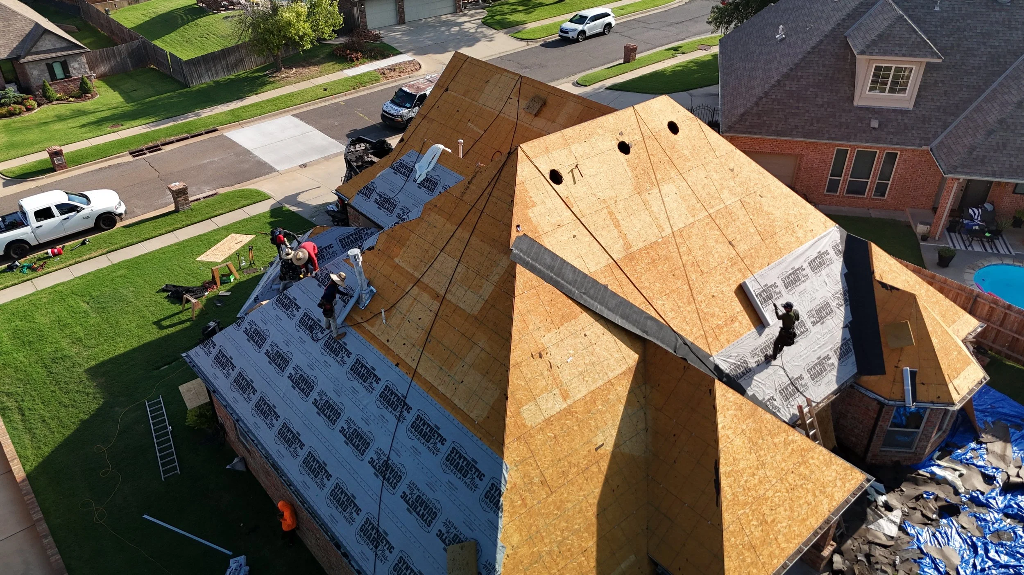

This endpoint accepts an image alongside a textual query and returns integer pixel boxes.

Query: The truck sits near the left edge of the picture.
[0,181,134,251]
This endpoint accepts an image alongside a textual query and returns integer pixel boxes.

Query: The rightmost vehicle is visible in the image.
[557,4,618,40]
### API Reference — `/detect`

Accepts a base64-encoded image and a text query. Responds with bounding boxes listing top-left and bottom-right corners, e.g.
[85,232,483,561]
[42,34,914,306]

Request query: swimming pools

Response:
[956,254,1024,328]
